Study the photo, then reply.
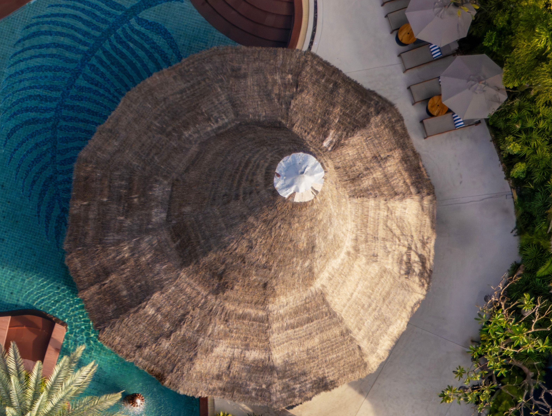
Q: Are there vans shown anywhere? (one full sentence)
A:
No, there is no van in the image.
